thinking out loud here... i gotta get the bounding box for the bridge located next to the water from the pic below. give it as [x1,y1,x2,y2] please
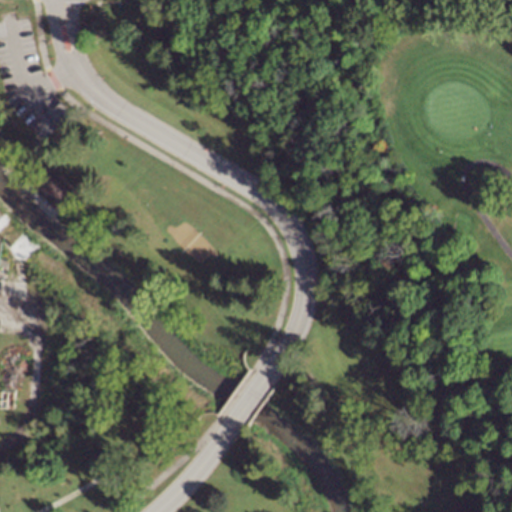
[200,350,278,432]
